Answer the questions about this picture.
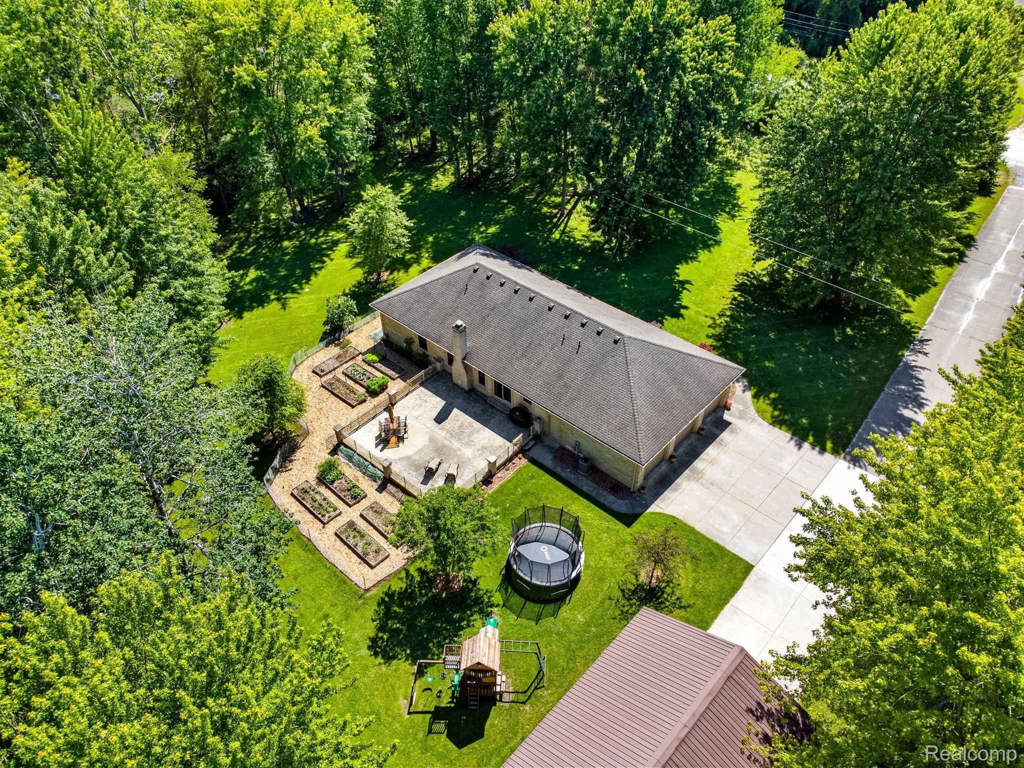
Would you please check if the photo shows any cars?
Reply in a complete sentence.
No, no car is visible in the scene.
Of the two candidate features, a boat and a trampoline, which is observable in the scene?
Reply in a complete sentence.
Visible in the photo is a trampoline.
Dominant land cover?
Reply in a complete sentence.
The largest share of the image is taken up by trees.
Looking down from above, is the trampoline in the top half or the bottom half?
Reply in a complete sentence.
The trampoline sits in the bottom half of the picture.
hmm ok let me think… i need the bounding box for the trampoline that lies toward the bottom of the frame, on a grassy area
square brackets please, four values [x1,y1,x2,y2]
[505,502,588,598]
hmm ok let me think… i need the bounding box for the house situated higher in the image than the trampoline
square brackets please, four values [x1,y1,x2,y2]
[367,242,747,492]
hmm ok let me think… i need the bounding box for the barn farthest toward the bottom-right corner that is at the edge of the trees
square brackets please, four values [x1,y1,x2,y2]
[501,605,816,768]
